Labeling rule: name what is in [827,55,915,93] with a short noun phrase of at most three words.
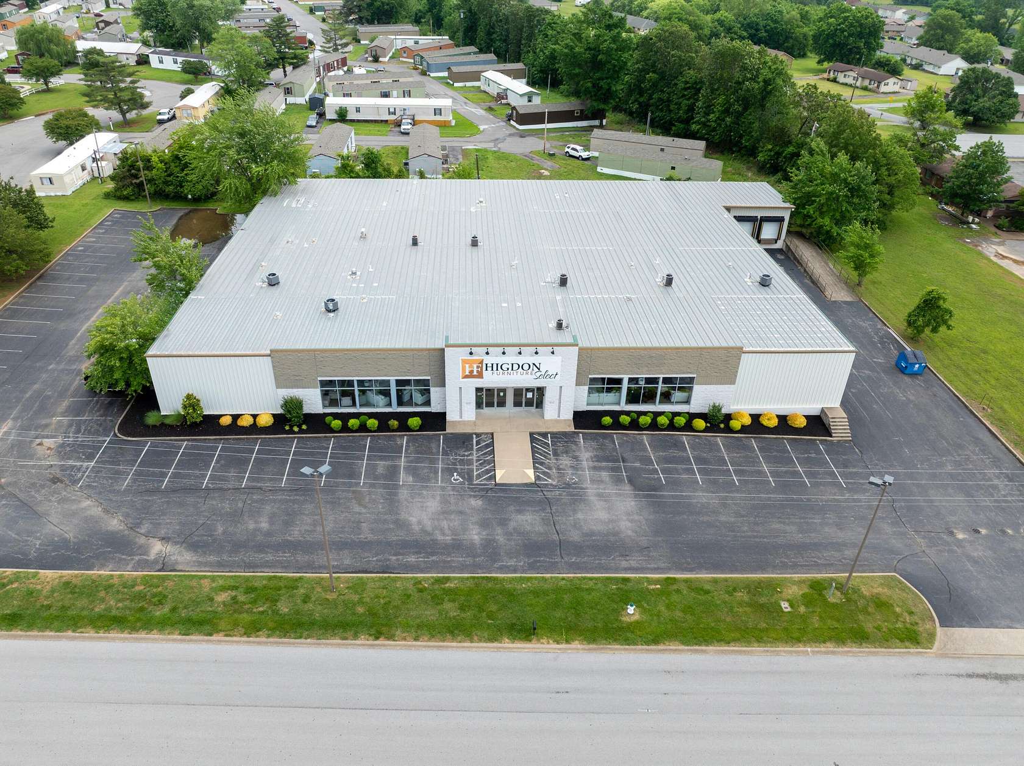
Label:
house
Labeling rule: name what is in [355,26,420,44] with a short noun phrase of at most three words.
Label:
house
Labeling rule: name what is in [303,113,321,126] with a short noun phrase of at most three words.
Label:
vehicle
